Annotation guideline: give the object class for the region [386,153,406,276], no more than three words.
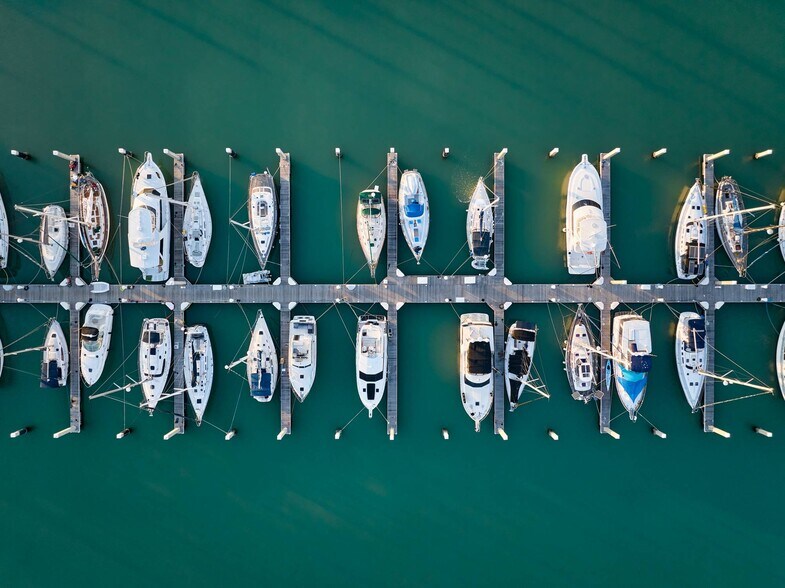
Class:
pier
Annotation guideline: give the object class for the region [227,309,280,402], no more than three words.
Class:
boat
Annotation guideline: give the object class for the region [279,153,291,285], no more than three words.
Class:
pier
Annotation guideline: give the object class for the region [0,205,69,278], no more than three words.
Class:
boat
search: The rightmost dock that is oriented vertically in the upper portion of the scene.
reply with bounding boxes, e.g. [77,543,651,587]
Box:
[702,153,718,285]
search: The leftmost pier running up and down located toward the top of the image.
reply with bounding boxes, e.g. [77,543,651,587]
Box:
[69,153,82,285]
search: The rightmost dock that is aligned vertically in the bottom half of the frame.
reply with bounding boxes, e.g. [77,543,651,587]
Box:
[695,304,715,435]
